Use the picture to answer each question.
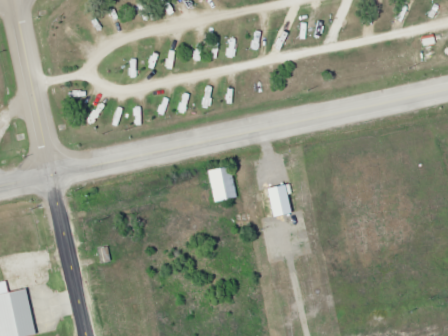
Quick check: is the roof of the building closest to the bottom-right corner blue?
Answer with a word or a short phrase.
No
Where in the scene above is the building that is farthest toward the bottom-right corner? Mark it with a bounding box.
[266,184,292,218]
